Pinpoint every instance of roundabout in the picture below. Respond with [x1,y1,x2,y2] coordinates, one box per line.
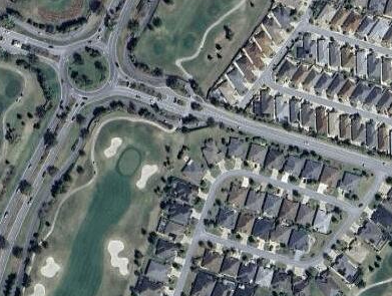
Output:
[59,40,119,101]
